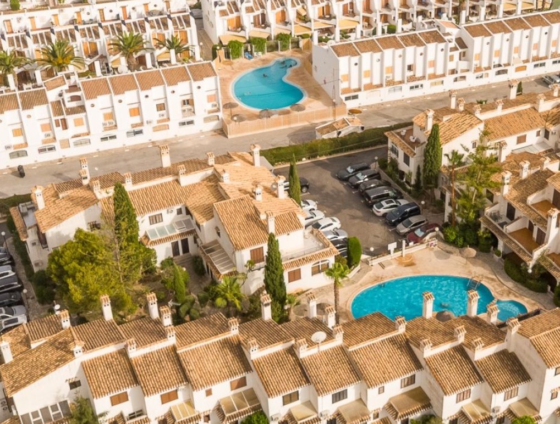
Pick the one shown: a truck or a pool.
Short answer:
pool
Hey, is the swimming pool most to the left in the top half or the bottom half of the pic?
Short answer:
top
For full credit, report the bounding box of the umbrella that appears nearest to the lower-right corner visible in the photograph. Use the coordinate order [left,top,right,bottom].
[433,305,456,323]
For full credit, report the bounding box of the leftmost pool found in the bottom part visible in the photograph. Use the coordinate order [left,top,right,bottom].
[350,272,498,325]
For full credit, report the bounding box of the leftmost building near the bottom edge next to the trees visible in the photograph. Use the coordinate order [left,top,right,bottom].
[3,307,97,424]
